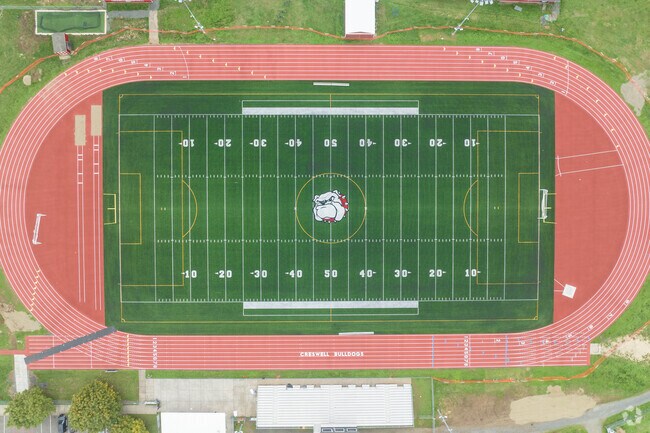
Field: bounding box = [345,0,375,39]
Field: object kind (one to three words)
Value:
building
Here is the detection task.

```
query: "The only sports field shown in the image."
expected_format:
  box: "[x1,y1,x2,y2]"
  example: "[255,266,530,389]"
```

[102,81,555,336]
